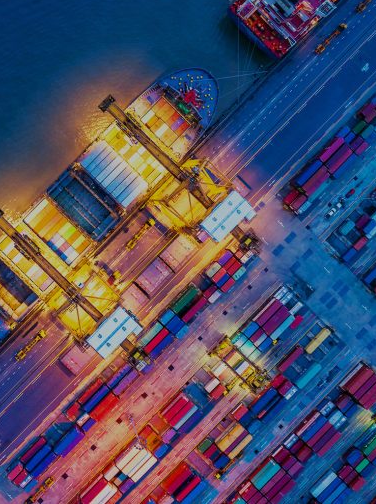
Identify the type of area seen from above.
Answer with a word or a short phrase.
port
